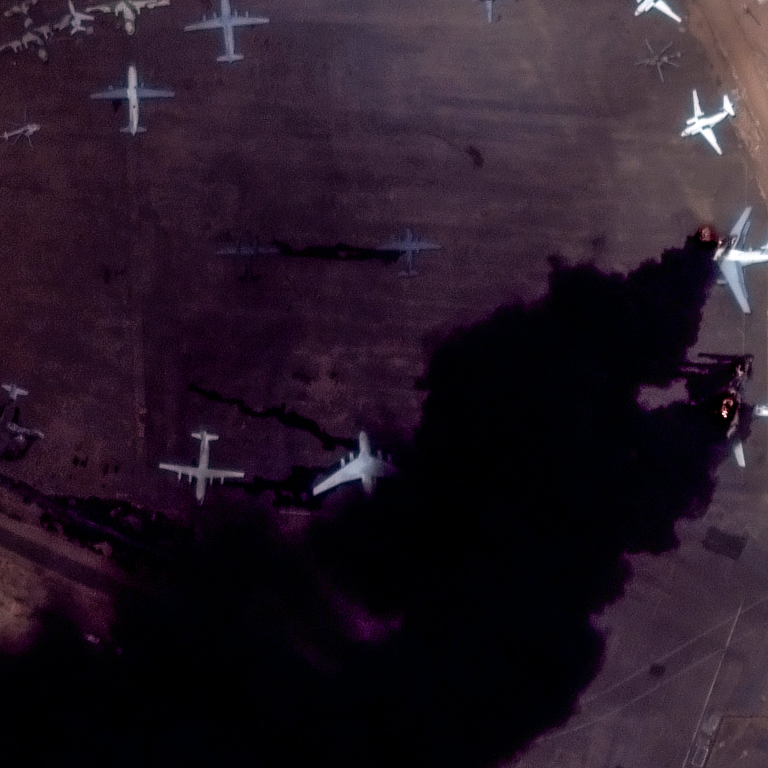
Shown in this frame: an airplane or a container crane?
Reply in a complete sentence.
Visible in the photo is an airplane.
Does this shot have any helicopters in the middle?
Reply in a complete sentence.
No, no helicopter can be made out in the middle.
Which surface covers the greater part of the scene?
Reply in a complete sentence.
The largest share of the image is taken up by paved ground.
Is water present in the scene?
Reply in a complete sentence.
No, no water is visible.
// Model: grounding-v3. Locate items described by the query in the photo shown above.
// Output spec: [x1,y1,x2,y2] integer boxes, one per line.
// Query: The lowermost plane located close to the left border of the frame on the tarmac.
[0,384,44,456]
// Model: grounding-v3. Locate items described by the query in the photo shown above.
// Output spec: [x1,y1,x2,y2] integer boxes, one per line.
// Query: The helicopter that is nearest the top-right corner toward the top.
[634,38,683,82]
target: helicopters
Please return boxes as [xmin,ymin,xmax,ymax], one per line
[0,108,43,149]
[634,38,683,82]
